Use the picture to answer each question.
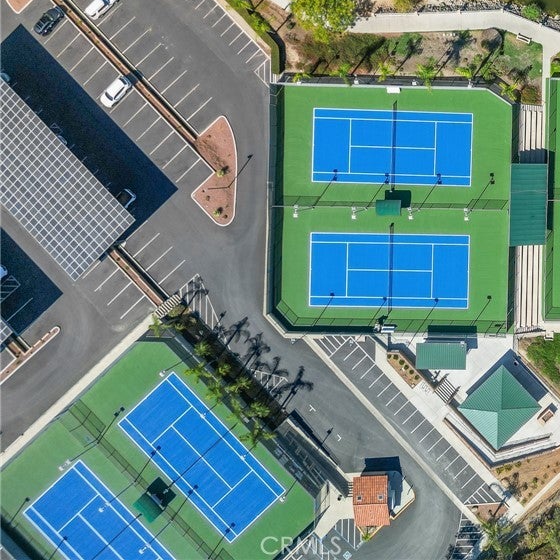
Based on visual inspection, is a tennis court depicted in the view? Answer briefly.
Yes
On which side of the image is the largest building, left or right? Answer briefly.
right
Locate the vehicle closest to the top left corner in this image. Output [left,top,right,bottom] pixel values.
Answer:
[26,5,62,35]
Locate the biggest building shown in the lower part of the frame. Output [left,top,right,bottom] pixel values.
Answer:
[457,363,541,450]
